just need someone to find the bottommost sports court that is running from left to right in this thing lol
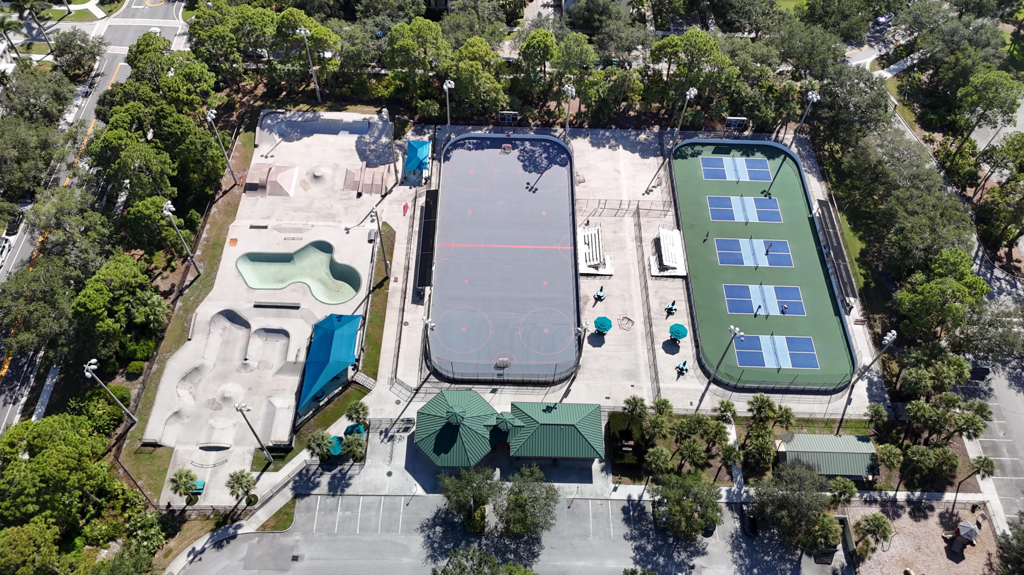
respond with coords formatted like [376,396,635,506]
[733,331,820,369]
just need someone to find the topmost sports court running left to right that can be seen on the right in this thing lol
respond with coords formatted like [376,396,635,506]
[700,154,773,181]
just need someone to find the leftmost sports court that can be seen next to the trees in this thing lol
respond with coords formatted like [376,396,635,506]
[427,132,582,385]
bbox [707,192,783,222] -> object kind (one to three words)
sports court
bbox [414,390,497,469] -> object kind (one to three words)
building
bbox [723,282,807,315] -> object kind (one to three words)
sports court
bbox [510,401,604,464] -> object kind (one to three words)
building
